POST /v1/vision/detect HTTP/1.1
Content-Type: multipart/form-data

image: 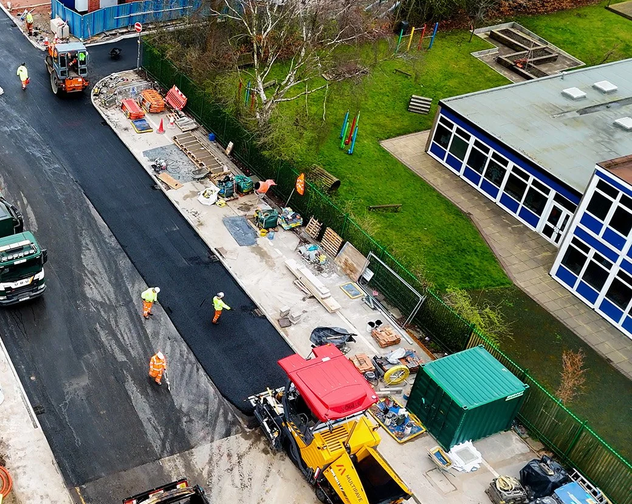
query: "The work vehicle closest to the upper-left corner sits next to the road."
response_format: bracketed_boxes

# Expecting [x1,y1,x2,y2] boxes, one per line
[44,40,90,94]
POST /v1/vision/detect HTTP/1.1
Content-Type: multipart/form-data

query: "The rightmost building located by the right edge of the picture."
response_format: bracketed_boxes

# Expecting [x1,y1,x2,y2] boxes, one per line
[548,149,632,337]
